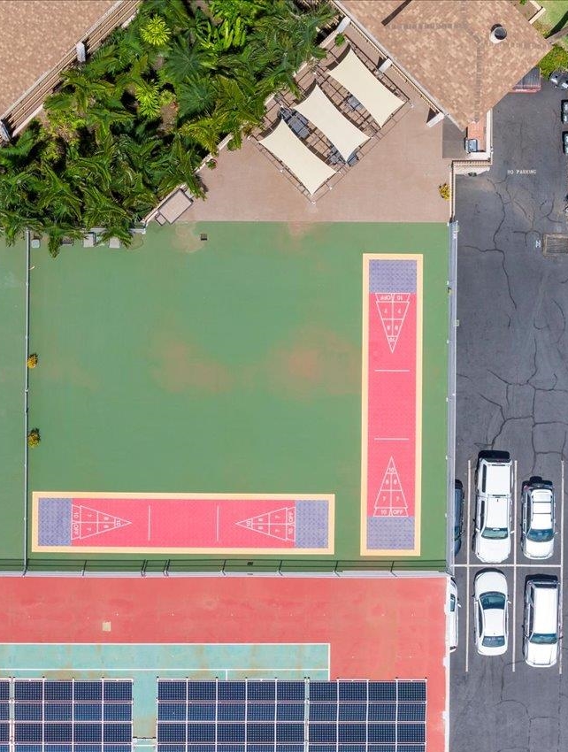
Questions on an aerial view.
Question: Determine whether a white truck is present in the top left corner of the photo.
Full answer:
No, looking in the top left corner of the photo, there is no white truck.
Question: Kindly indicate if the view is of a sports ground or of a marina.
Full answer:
The picture captures a sports ground.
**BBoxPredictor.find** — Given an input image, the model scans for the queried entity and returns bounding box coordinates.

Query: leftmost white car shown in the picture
[448,577,463,652]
